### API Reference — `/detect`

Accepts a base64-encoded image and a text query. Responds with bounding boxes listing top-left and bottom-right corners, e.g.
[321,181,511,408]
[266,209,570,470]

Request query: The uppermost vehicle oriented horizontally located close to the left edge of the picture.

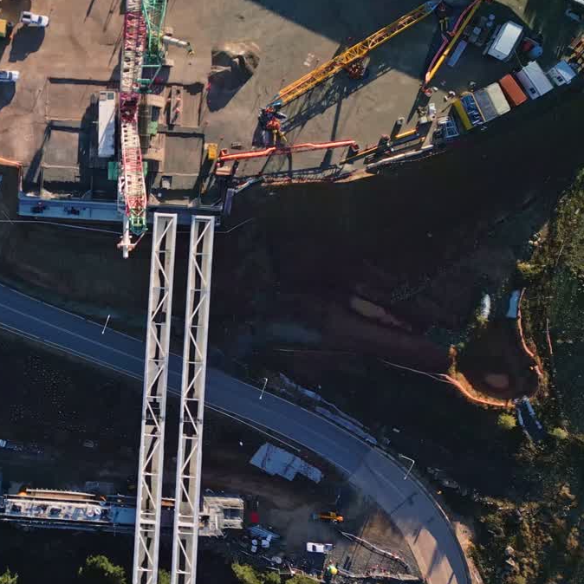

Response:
[21,10,49,25]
